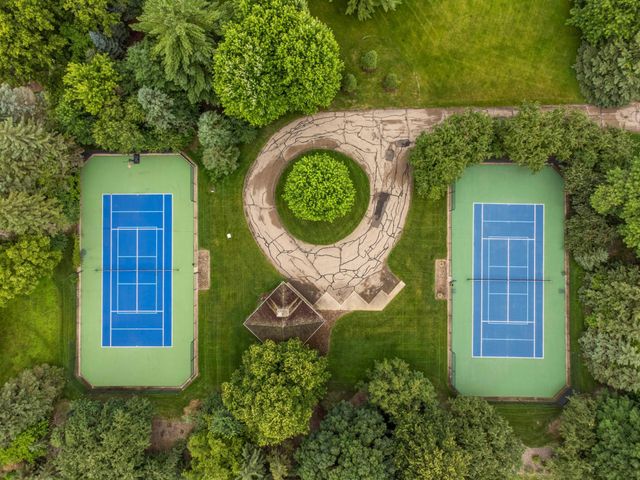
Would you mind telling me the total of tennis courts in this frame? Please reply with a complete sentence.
The number of tennis courts here is 2.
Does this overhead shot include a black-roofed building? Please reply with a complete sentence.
No, there is no black-roofed building in the image.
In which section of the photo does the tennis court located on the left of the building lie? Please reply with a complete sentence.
You can find the tennis court located on the left of the building in the left area of the picture.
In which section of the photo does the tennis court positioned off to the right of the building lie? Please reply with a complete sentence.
The tennis court positioned off to the right of the building is in the right part of the image.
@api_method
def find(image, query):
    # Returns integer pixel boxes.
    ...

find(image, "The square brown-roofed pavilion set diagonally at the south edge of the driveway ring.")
[243,279,327,358]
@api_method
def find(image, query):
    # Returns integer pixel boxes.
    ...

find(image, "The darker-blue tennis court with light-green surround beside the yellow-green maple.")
[76,151,198,391]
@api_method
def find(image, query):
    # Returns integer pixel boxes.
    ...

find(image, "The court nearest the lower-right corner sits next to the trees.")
[447,161,569,401]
